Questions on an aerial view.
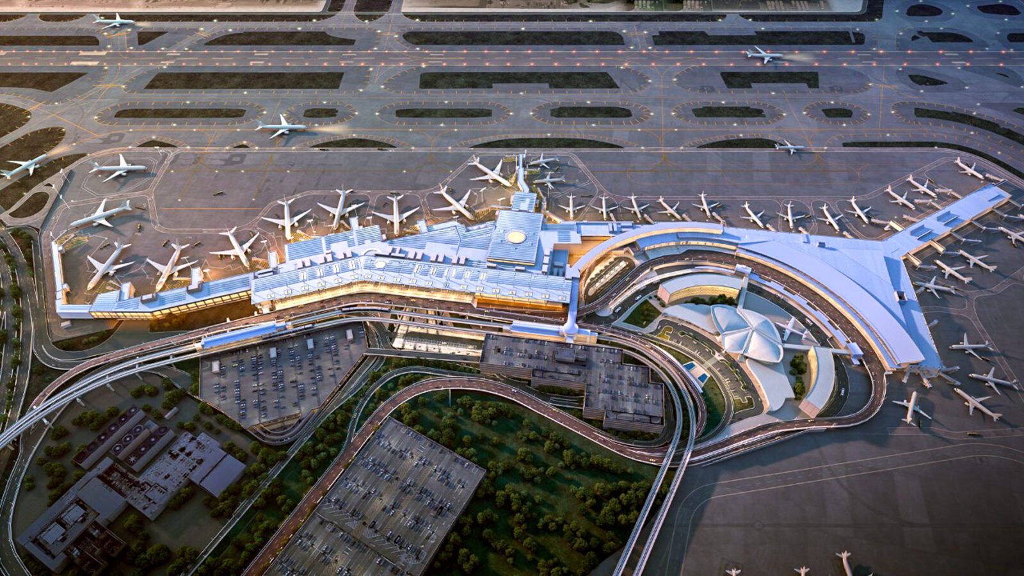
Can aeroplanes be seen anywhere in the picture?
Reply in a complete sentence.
Yes, there's an aeroplane here.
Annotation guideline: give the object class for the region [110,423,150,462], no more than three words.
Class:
cooling tower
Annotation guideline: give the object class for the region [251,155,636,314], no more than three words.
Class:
building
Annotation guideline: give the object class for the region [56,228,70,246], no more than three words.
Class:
jet bridge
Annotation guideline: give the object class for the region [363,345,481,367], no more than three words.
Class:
bridge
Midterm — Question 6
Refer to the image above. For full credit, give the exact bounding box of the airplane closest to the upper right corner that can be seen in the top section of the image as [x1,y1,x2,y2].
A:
[953,154,983,180]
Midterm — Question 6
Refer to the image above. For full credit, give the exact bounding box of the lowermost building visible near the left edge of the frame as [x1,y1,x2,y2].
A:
[17,432,249,576]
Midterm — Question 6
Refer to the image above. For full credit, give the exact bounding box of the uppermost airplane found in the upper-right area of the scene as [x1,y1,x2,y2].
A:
[746,44,782,61]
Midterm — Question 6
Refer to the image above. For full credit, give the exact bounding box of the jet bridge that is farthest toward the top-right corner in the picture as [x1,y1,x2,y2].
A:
[983,171,1005,187]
